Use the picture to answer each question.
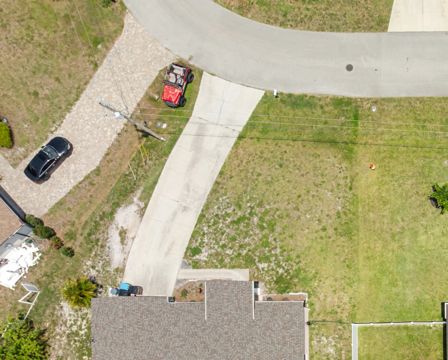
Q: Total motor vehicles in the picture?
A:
2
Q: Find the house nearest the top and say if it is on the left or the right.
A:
left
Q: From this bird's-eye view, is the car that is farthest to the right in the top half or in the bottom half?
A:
top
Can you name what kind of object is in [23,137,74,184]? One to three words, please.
car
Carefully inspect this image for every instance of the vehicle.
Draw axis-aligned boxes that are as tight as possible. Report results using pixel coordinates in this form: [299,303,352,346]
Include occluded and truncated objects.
[23,137,74,184]
[162,60,196,110]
